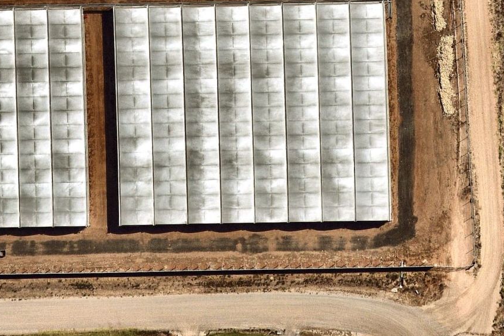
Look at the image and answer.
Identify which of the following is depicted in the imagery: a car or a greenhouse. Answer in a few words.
greenhouse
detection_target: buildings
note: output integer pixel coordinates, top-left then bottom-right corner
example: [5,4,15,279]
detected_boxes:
[0,7,88,229]
[114,2,392,227]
